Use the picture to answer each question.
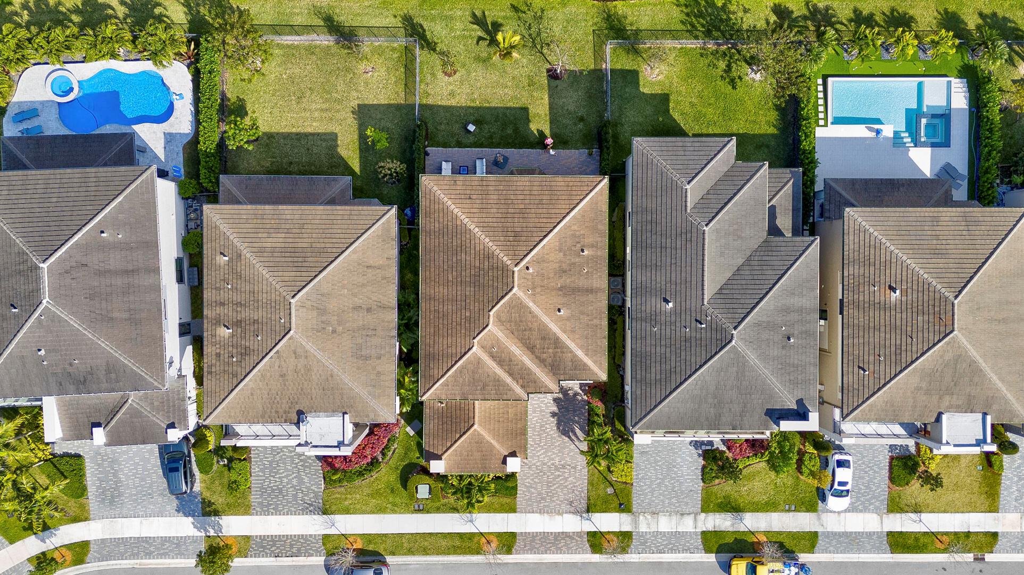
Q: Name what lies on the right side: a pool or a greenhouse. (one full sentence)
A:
Looking on the right side, you will find a pool.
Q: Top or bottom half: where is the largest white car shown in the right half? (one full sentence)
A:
The bottom half of the photo is where the largest white car shown in the right half is.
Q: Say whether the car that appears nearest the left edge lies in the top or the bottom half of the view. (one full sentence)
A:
You can find the car that appears nearest the left edge in the bottom half.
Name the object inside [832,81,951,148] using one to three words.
swimming pool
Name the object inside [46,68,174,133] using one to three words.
swimming pool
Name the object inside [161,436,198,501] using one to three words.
car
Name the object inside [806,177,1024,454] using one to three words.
house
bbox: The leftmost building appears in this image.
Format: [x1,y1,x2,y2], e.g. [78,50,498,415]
[0,131,202,447]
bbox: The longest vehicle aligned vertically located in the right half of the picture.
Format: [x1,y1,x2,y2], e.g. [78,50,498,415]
[822,450,854,515]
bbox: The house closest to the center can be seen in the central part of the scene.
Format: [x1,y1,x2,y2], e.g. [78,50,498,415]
[418,166,610,475]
